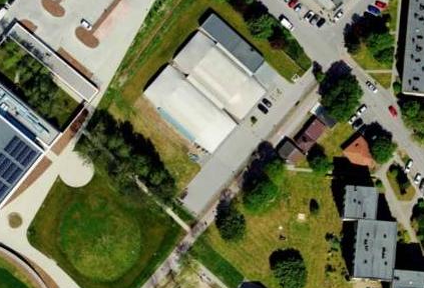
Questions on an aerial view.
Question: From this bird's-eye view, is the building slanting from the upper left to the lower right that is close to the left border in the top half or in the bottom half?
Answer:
top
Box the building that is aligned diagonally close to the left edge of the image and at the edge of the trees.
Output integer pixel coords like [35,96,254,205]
[0,22,100,104]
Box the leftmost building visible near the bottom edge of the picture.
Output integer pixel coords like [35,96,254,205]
[352,220,399,283]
